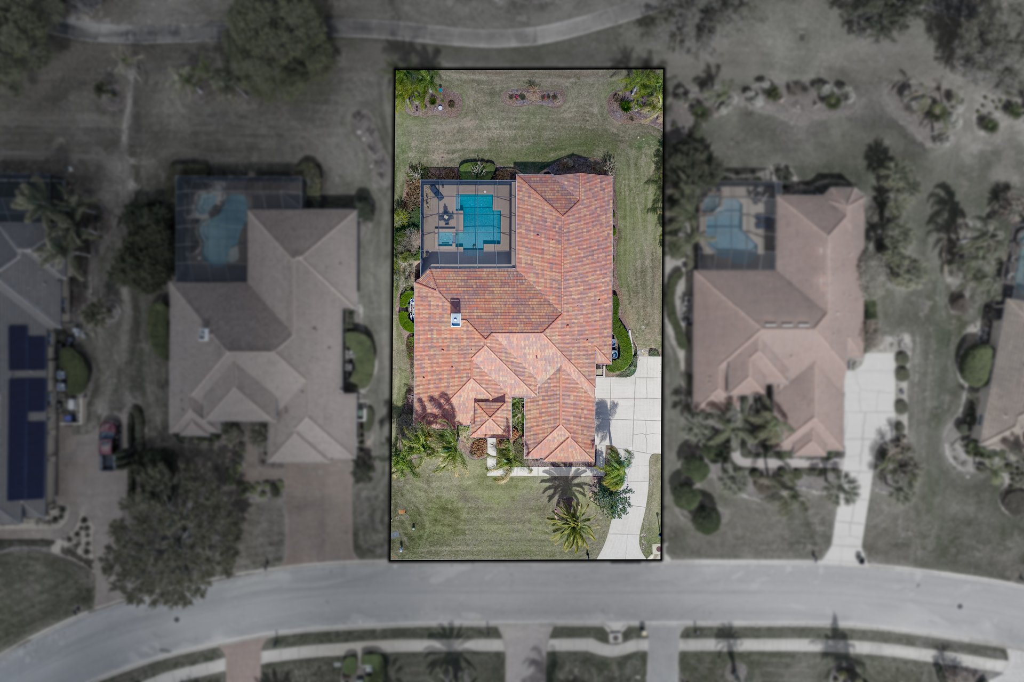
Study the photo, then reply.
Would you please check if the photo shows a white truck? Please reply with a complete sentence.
No, there isn't any white truck down there.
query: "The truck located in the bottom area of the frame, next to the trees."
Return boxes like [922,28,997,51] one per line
[97,417,122,470]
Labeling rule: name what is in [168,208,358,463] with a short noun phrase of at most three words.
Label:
house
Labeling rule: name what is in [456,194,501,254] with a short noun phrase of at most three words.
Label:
swimming pool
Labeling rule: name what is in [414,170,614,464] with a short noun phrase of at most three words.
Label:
house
